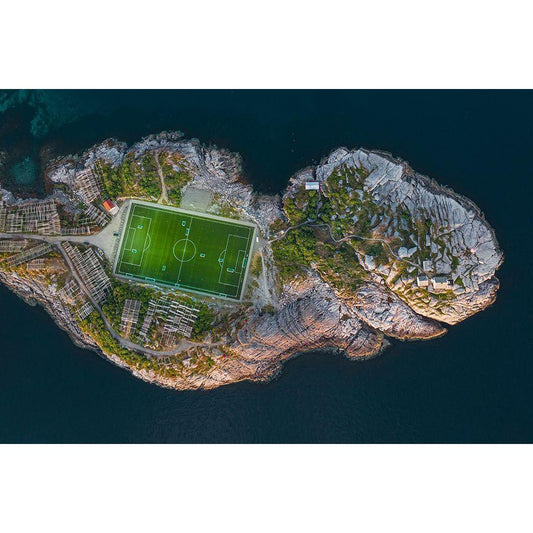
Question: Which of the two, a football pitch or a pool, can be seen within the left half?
football pitch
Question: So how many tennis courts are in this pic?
none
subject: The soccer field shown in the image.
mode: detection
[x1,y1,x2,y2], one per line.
[114,199,257,301]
